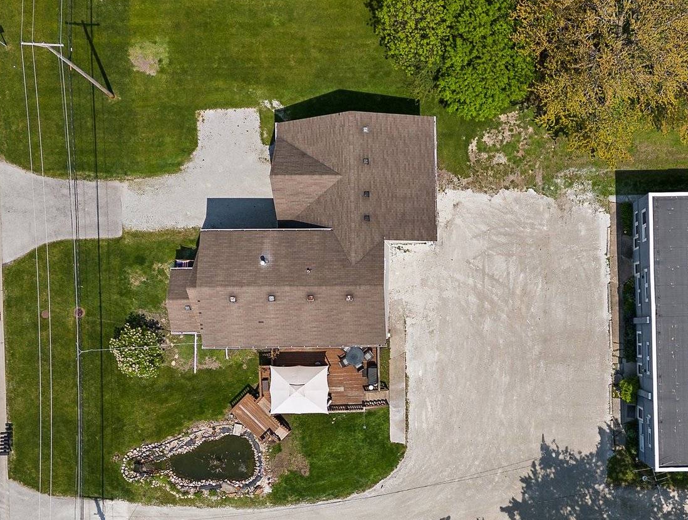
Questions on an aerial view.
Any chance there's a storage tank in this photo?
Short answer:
No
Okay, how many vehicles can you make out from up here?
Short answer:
0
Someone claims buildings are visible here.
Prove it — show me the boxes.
[166,110,439,373]
[634,193,688,471]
